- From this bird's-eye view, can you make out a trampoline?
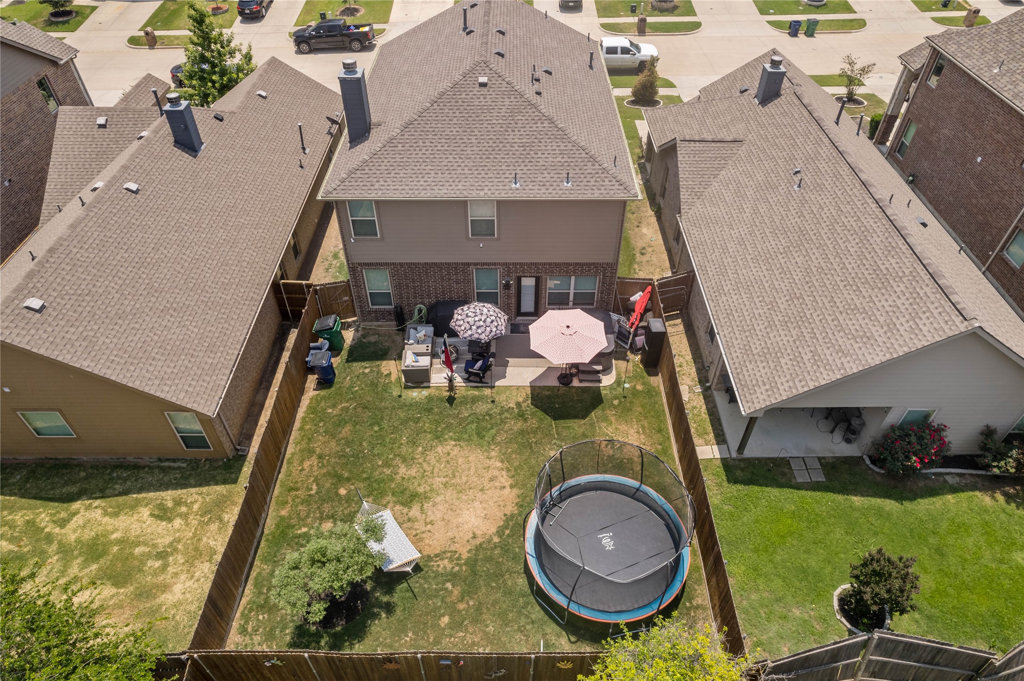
Yes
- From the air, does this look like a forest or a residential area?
residential area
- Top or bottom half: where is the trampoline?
bottom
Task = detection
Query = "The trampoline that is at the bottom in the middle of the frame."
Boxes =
[522,444,698,636]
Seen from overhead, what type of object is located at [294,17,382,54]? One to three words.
truck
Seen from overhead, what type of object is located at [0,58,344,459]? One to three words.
house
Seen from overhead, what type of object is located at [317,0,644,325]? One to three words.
house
